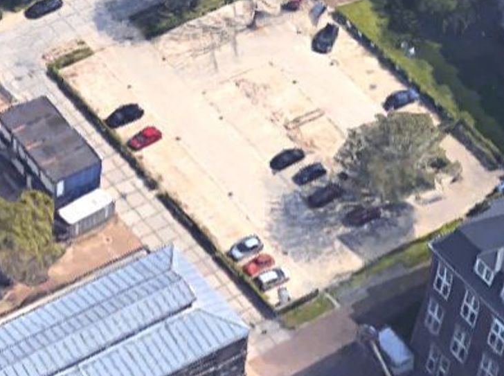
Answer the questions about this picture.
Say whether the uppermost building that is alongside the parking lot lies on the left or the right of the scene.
left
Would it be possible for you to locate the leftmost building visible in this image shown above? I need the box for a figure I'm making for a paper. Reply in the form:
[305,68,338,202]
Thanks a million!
[0,96,104,221]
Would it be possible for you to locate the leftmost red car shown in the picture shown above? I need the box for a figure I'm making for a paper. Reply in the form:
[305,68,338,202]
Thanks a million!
[125,121,166,152]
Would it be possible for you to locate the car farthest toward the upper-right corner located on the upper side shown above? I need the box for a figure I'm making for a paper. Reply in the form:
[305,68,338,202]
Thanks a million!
[378,84,426,114]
